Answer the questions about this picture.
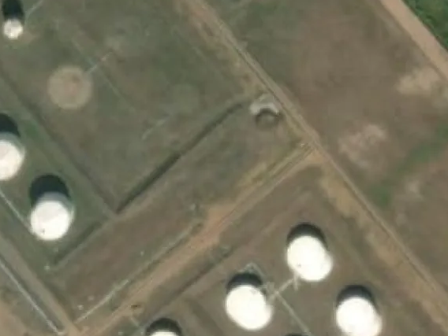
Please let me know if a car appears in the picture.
No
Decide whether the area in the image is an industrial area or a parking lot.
industrial area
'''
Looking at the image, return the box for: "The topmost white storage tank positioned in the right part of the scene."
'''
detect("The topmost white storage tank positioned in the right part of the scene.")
[286,231,333,281]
